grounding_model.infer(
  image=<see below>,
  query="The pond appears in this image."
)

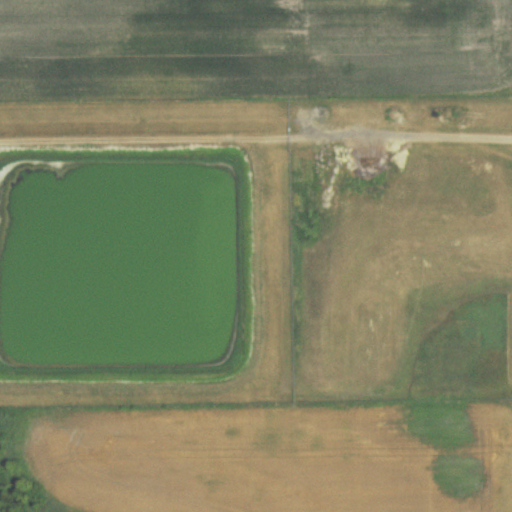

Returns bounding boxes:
[0,162,238,367]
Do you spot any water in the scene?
Yes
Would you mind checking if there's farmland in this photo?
Yes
